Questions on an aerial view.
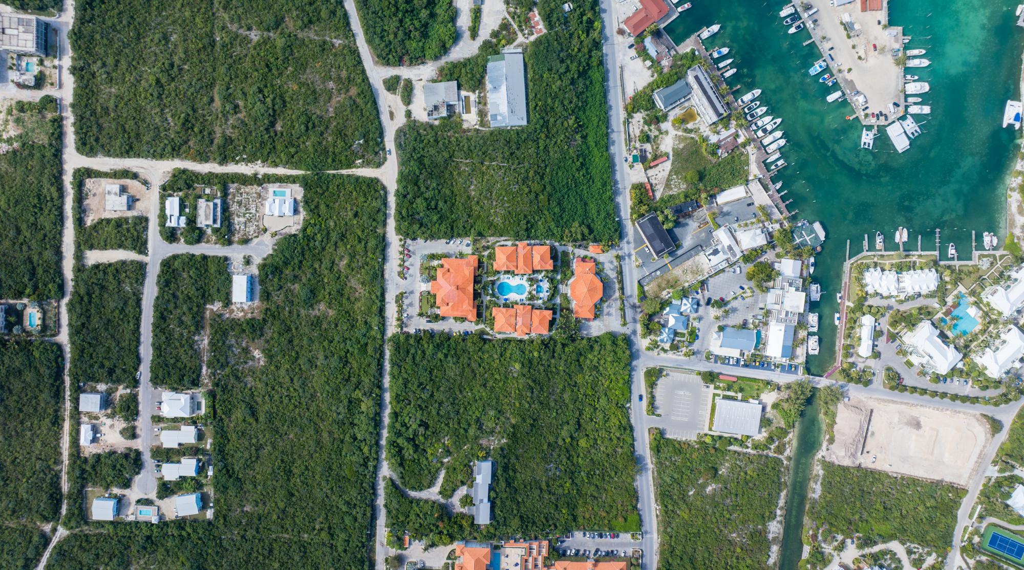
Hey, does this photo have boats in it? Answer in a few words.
Yes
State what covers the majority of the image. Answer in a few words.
trees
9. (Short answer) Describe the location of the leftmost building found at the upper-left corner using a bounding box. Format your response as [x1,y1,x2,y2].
[0,16,46,56]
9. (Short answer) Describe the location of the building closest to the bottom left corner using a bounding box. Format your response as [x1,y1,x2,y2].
[93,496,119,521]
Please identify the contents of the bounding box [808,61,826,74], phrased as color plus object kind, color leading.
blue boat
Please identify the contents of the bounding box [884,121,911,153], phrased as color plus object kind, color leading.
white ship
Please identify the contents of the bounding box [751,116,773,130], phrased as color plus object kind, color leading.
white boat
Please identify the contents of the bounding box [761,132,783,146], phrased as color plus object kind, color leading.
white boat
